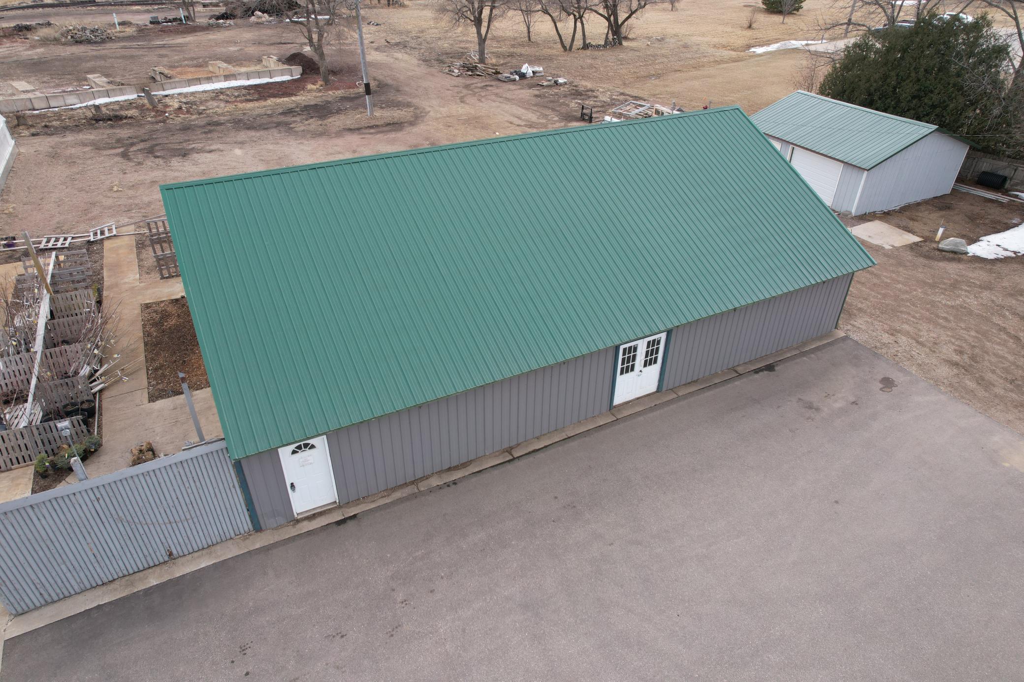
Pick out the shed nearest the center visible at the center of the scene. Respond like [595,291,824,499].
[158,103,878,532]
